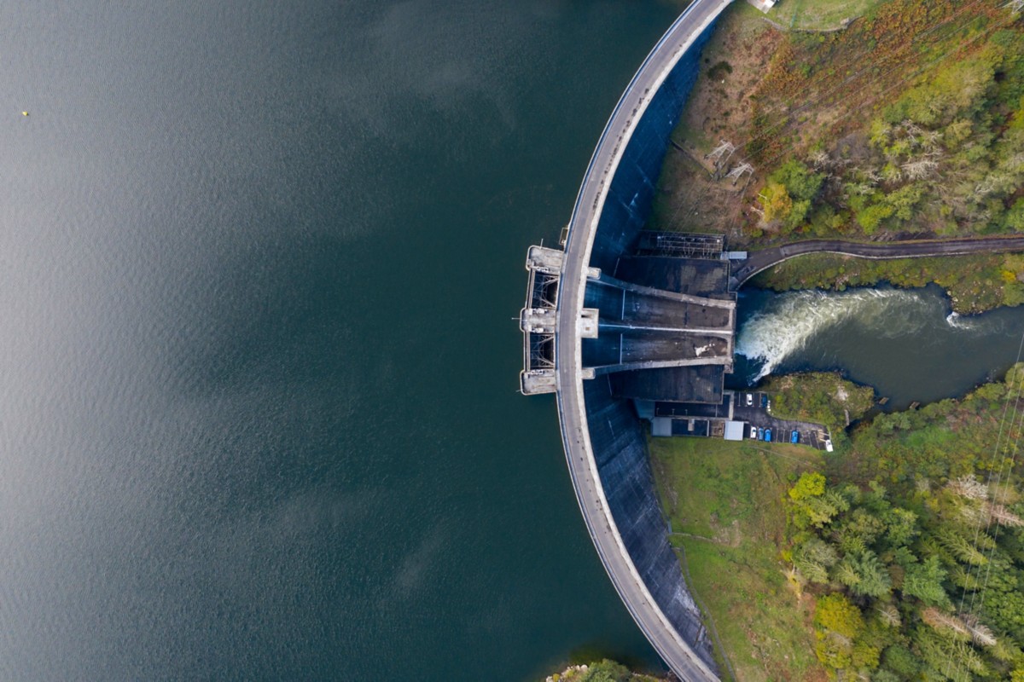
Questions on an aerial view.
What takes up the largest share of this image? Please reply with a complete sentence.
The largest share of the image is taken up by water.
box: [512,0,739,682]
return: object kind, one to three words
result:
dam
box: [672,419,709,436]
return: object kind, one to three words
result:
building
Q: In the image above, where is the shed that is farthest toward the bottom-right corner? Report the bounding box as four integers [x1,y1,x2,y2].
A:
[722,421,749,440]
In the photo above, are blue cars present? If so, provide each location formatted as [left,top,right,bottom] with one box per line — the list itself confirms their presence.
[765,429,771,441]
[758,428,764,440]
[792,431,797,443]
[761,394,767,406]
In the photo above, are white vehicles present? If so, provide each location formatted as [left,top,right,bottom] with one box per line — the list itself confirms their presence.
[825,439,834,453]
[750,426,756,439]
[747,393,752,405]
